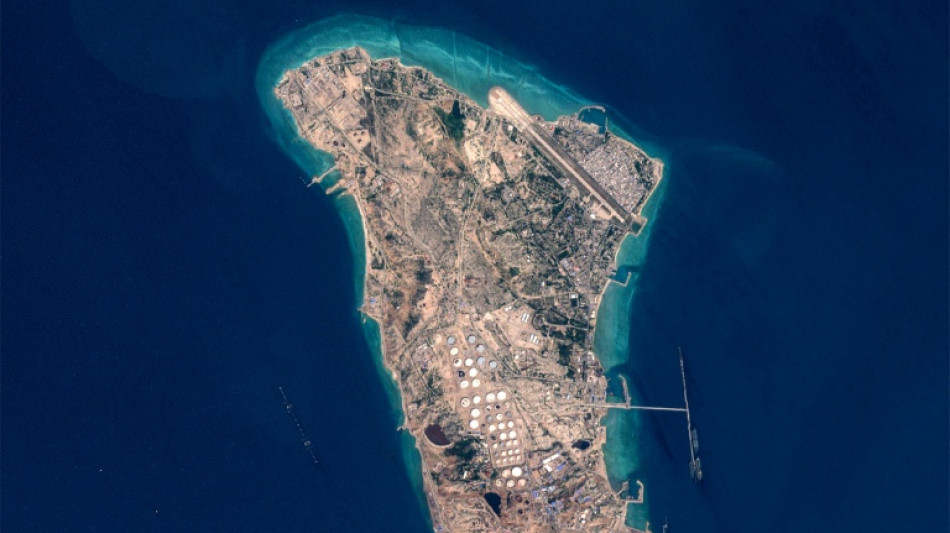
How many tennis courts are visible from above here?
0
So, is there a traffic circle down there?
No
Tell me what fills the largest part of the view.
water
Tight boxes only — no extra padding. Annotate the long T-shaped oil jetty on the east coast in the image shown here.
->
[604,347,695,465]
